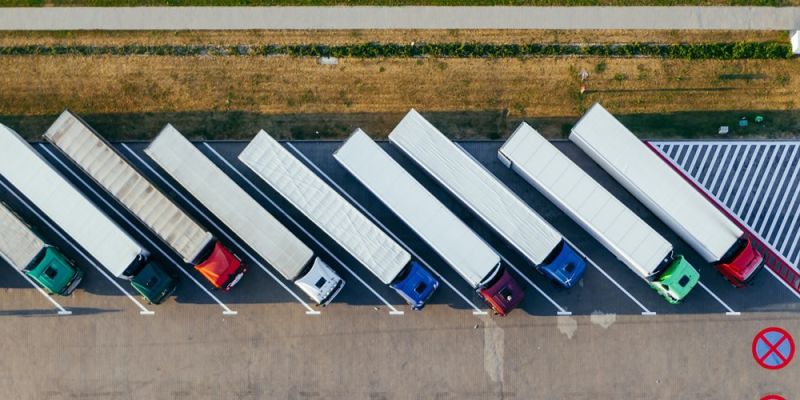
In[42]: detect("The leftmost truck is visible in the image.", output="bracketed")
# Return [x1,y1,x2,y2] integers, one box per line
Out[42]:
[0,189,88,296]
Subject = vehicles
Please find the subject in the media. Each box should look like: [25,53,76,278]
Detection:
[240,130,443,314]
[334,129,534,319]
[566,104,767,291]
[495,123,702,308]
[145,124,348,309]
[0,121,182,305]
[44,109,252,295]
[389,109,589,295]
[0,189,88,296]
